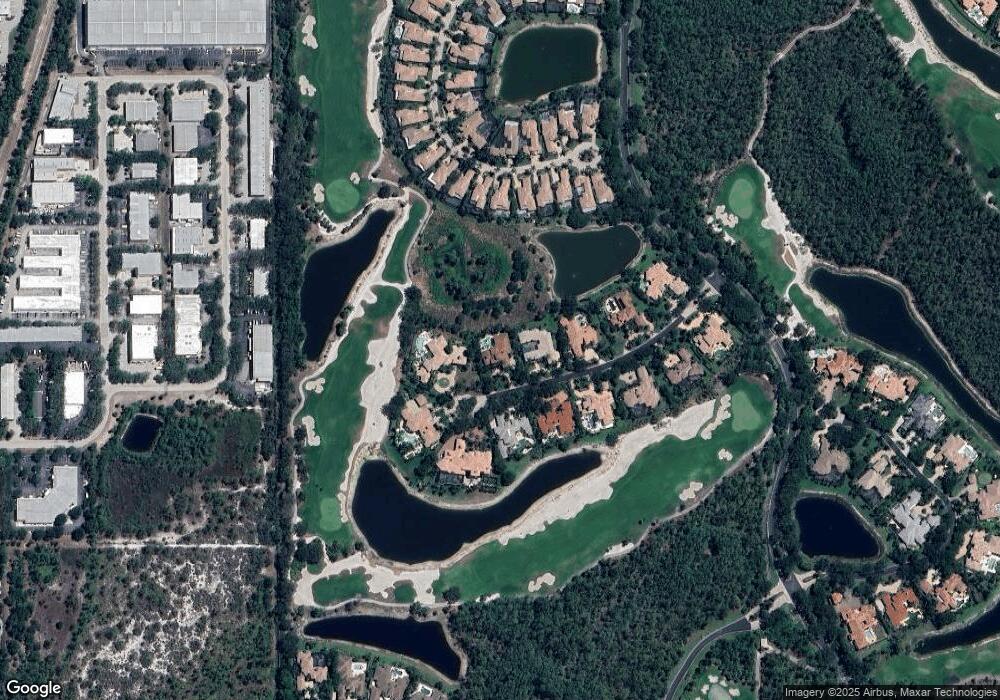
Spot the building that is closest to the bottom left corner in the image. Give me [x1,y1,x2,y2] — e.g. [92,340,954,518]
[17,466,78,525]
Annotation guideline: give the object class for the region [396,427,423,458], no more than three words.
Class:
swimming pool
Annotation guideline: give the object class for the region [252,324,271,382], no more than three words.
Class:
building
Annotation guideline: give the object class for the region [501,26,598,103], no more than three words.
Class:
pond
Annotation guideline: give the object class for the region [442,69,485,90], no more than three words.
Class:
house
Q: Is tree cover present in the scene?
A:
Yes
